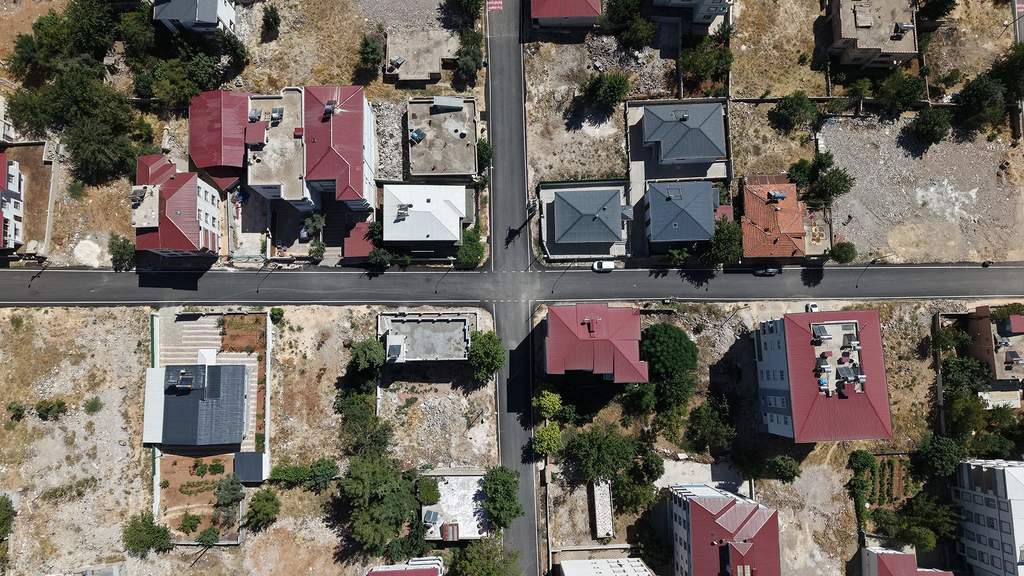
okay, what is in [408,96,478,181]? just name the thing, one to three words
house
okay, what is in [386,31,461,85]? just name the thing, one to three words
building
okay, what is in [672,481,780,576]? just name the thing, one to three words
building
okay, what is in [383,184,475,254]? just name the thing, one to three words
house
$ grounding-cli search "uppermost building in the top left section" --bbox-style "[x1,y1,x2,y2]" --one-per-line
[153,0,234,42]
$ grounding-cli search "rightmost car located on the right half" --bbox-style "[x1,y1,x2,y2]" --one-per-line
[806,300,819,313]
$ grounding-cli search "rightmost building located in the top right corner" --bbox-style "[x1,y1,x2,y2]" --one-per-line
[825,0,919,69]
